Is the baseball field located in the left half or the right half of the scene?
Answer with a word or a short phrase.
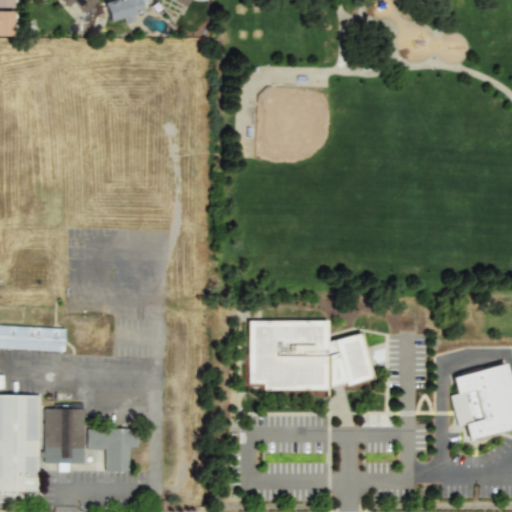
right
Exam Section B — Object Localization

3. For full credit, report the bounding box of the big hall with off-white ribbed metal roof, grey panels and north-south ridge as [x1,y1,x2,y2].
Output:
[0,395,40,493]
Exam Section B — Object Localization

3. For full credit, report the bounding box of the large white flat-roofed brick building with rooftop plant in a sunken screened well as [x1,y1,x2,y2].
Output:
[246,320,331,394]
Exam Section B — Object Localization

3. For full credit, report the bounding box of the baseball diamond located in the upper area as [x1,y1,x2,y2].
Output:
[238,71,512,288]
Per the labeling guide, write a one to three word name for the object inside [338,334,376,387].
building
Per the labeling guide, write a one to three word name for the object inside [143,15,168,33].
swimming pool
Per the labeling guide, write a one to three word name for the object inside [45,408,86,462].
building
